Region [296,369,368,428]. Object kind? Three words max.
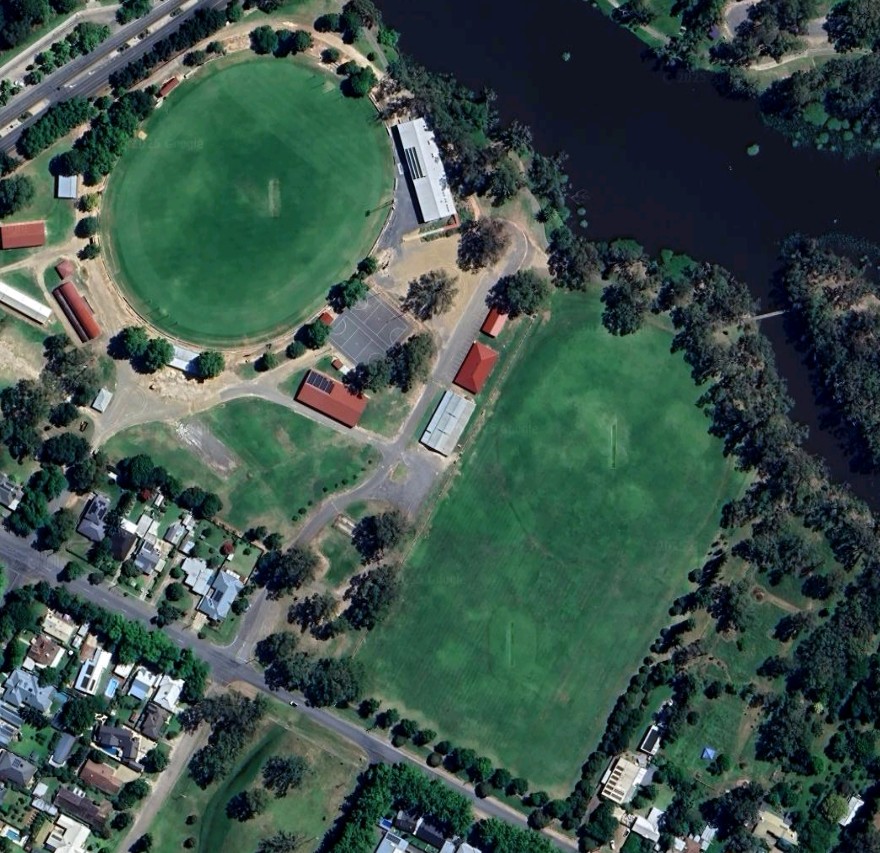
building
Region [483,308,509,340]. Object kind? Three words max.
shed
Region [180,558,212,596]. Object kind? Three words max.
house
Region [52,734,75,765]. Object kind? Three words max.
shed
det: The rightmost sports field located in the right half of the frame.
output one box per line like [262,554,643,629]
[360,292,742,795]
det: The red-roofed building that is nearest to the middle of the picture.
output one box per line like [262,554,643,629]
[454,341,498,395]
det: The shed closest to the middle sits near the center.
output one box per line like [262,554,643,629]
[422,390,476,459]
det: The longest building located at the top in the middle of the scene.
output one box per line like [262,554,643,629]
[397,116,455,222]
